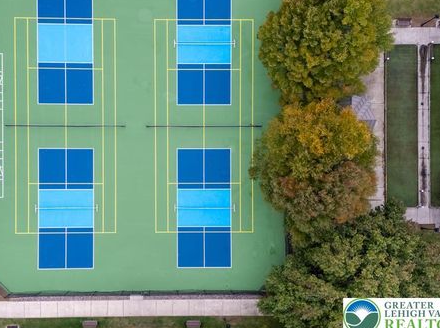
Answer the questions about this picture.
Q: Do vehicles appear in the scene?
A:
No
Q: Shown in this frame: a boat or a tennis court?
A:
tennis court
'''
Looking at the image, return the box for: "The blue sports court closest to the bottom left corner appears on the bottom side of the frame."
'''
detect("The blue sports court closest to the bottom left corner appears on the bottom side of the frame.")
[38,148,94,269]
